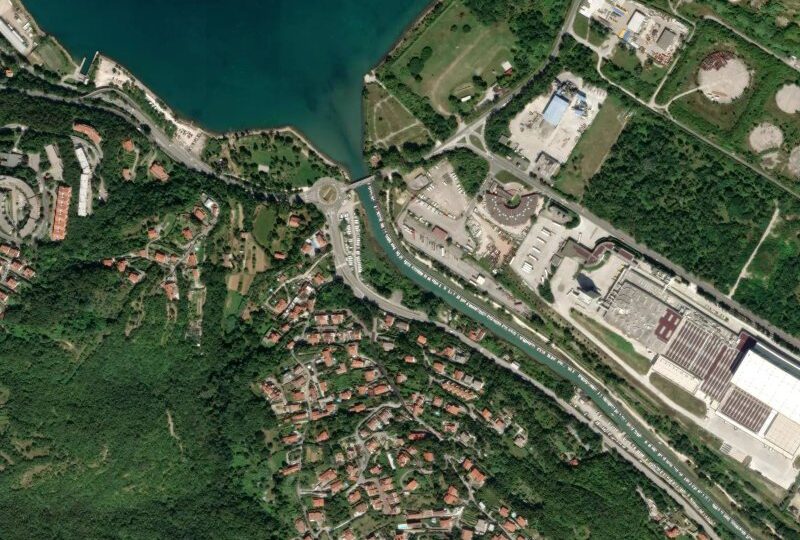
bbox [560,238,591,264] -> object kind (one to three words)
building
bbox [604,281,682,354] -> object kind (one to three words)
building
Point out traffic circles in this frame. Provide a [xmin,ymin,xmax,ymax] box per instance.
[300,176,348,214]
